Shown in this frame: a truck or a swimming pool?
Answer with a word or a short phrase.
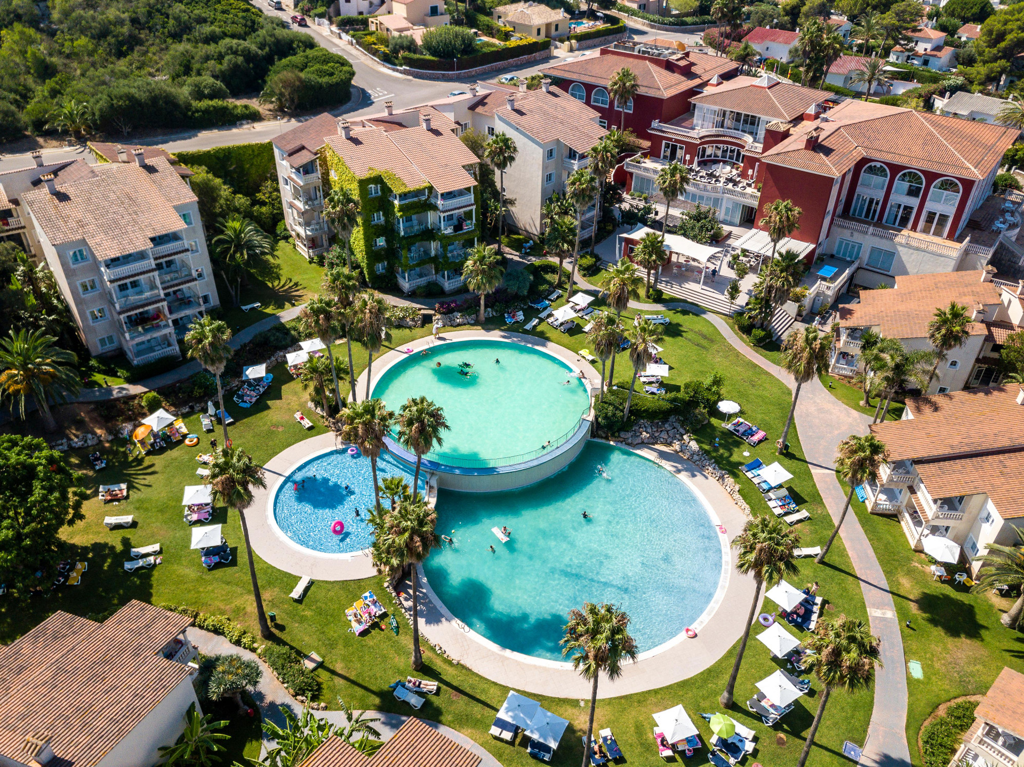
swimming pool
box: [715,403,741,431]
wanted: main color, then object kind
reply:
white umbrella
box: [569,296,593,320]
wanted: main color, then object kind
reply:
white umbrella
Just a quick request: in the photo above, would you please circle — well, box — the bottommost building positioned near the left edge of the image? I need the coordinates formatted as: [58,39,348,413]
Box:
[0,587,204,767]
